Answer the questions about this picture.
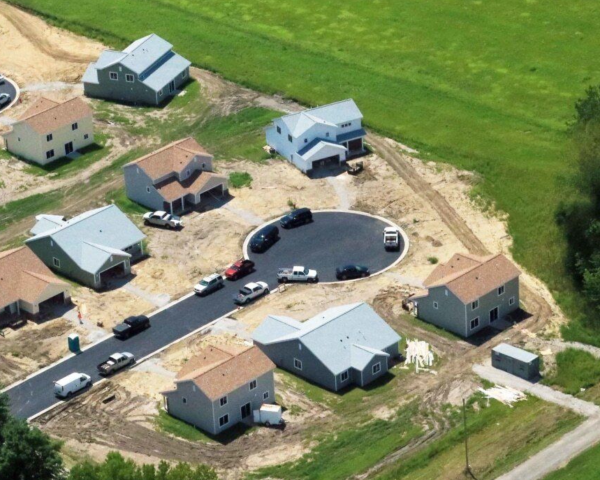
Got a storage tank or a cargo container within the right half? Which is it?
cargo container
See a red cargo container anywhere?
No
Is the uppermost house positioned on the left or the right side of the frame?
left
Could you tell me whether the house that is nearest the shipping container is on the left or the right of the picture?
right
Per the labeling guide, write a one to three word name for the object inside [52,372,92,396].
vehicle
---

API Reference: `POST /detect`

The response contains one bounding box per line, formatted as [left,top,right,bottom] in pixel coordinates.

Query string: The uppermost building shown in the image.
[82,34,190,104]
